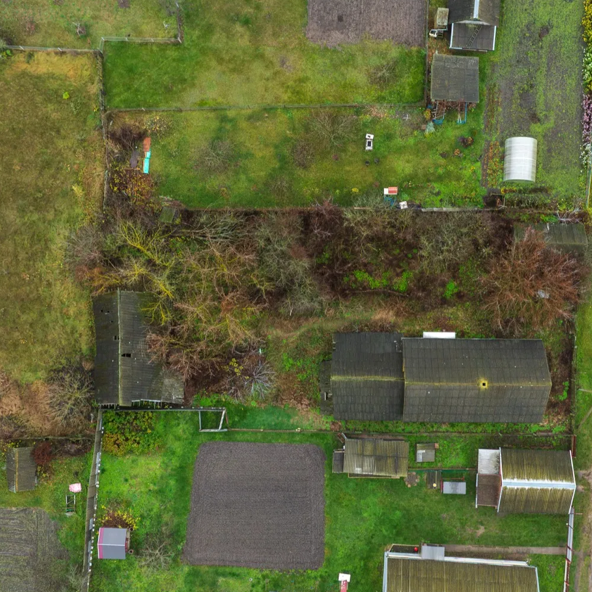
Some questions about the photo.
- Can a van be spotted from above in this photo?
No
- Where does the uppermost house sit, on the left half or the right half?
right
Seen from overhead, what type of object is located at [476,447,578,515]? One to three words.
house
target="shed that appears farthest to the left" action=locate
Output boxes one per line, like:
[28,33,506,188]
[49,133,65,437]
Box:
[7,446,42,493]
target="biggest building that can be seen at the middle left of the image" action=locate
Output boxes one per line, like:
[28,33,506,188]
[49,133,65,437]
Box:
[93,289,185,407]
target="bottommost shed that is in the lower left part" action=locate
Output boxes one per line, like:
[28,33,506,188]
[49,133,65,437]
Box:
[98,525,131,559]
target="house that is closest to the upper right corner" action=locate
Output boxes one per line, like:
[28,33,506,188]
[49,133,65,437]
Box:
[447,0,500,55]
